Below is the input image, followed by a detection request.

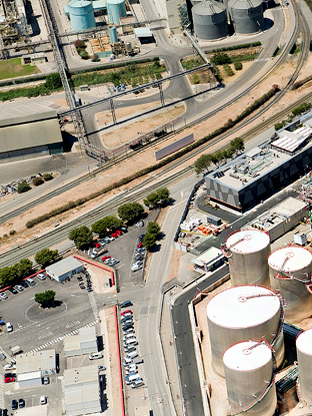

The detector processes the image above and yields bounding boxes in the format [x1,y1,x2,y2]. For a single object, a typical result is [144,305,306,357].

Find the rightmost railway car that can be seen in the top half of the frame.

[170,116,195,133]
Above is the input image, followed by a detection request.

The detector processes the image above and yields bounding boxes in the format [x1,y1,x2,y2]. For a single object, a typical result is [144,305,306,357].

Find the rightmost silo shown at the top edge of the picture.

[229,0,263,33]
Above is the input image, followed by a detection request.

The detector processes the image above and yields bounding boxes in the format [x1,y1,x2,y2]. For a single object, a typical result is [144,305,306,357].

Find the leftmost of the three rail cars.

[126,135,152,151]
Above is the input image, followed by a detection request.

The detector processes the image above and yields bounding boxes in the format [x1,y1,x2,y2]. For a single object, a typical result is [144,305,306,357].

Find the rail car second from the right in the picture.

[145,127,169,144]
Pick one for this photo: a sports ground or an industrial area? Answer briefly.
industrial area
